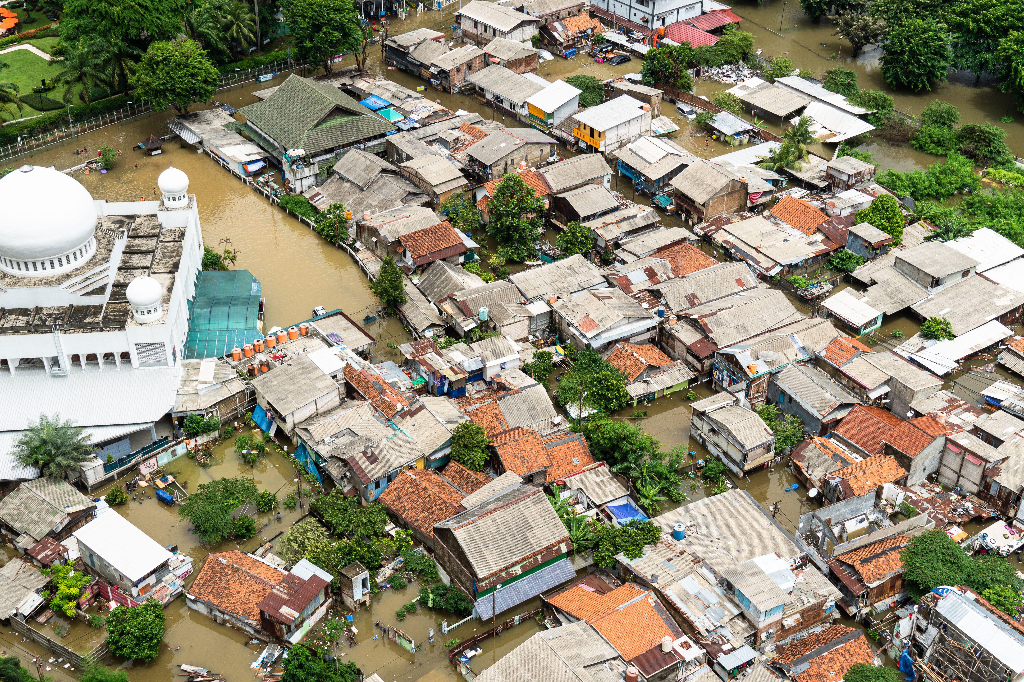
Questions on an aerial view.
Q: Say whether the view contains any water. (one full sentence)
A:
Yes, water shows up in the scene.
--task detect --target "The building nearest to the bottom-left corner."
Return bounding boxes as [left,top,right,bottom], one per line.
[0,558,51,635]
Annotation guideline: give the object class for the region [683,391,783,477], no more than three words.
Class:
house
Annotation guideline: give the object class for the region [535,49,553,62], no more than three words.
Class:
vehicle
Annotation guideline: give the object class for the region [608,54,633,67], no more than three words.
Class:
vehicle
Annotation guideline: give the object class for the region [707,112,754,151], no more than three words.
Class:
shed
